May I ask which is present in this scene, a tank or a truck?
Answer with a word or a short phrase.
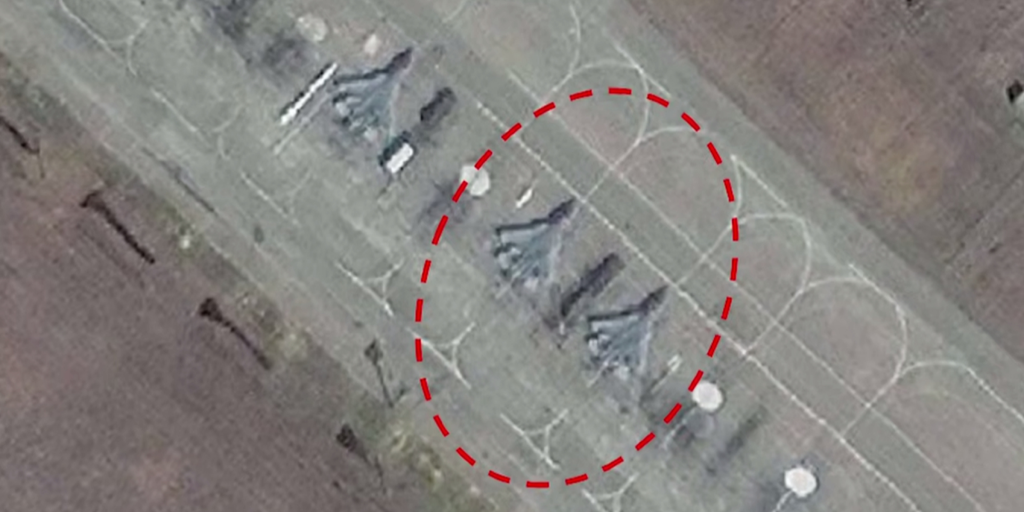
truck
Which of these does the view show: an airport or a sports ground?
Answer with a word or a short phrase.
airport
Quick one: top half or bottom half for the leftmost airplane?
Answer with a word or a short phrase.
top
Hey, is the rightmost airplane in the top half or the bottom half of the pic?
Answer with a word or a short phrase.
bottom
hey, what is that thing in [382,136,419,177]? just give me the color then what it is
white truck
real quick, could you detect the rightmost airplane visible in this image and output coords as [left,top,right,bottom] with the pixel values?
[586,293,670,381]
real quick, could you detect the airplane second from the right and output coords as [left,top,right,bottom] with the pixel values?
[494,202,579,293]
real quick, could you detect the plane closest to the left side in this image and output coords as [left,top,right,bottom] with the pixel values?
[333,55,416,147]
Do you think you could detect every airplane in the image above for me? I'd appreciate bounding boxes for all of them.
[494,202,579,293]
[586,293,670,381]
[333,55,416,147]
